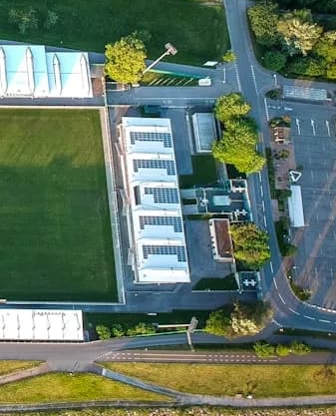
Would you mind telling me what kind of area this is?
sports ground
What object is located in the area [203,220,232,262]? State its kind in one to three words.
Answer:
house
